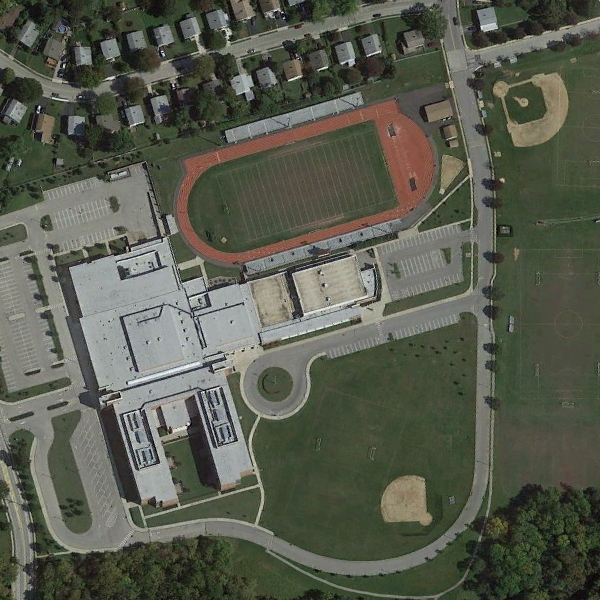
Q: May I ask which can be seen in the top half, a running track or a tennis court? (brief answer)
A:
running track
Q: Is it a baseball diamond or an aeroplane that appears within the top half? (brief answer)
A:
baseball diamond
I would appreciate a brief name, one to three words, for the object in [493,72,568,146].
baseball field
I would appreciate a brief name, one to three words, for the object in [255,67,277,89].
house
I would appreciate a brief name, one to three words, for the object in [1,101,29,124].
house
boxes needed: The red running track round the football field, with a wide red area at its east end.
[176,100,434,264]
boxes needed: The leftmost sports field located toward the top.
[188,120,397,253]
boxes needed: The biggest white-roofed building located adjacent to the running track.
[69,162,380,507]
